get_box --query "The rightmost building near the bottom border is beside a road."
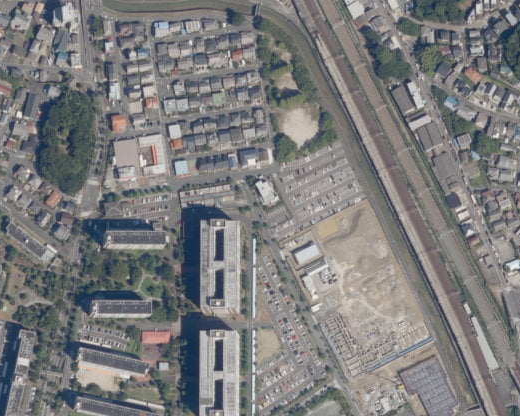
[199,330,242,416]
